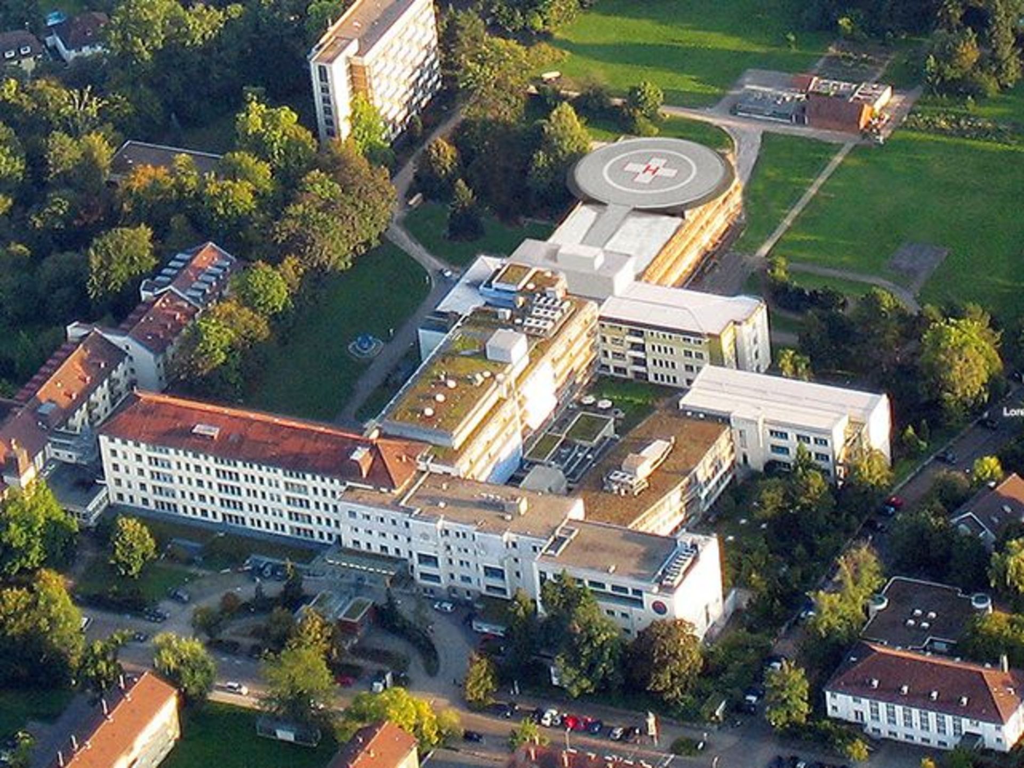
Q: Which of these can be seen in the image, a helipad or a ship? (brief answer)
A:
helipad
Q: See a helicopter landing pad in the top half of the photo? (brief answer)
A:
Yes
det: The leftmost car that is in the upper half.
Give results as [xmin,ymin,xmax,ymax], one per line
[436,266,458,280]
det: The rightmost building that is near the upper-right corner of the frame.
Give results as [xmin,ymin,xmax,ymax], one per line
[805,77,895,145]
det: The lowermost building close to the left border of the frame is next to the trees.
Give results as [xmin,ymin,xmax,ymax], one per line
[46,664,183,768]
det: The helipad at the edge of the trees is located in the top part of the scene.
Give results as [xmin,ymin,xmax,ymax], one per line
[568,137,734,248]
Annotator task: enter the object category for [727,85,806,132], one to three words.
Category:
greenhouse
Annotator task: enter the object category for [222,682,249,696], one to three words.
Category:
car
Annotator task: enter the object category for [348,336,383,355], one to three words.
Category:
fountain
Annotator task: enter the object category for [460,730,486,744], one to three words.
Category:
car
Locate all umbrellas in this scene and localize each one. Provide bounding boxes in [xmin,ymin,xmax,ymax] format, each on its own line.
[579,396,597,412]
[596,400,614,415]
